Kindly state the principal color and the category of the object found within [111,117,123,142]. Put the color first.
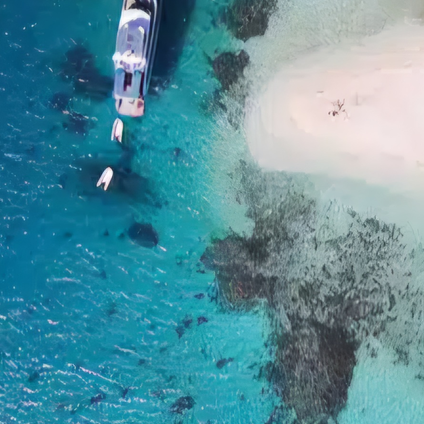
white boat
